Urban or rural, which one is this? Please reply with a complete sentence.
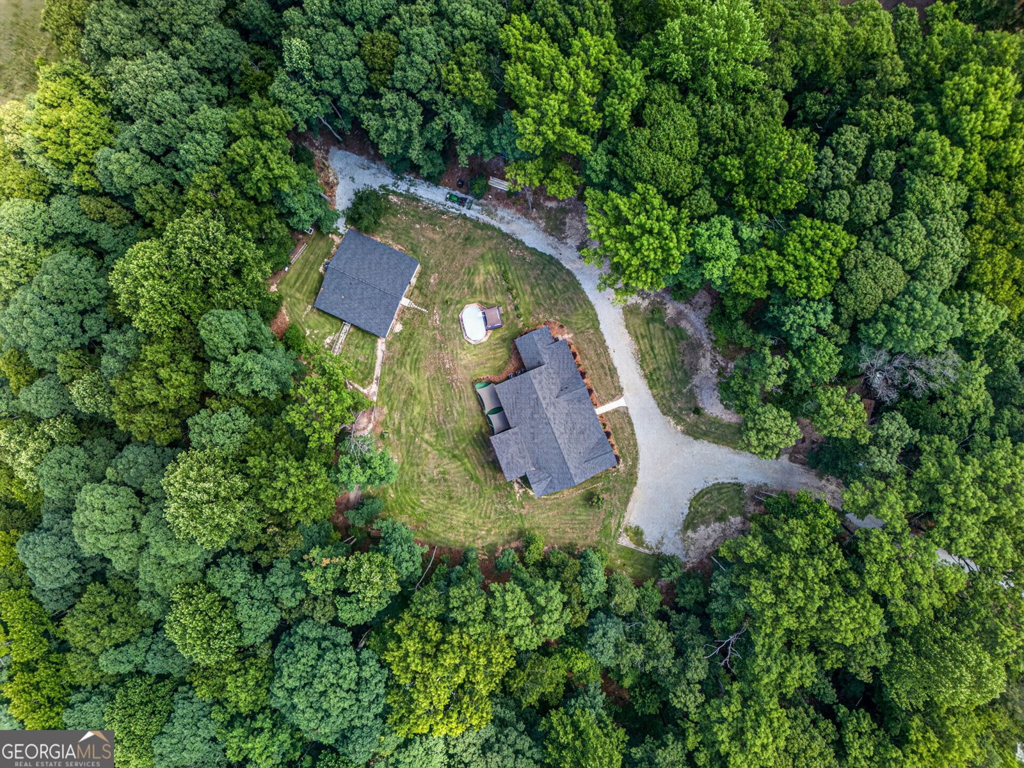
From above, the setting appears rural.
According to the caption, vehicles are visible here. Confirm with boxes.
[449,190,474,209]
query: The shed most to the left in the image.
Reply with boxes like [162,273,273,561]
[313,229,419,338]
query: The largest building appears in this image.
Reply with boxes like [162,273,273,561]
[489,325,619,499]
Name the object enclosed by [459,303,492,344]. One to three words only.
swimming pool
